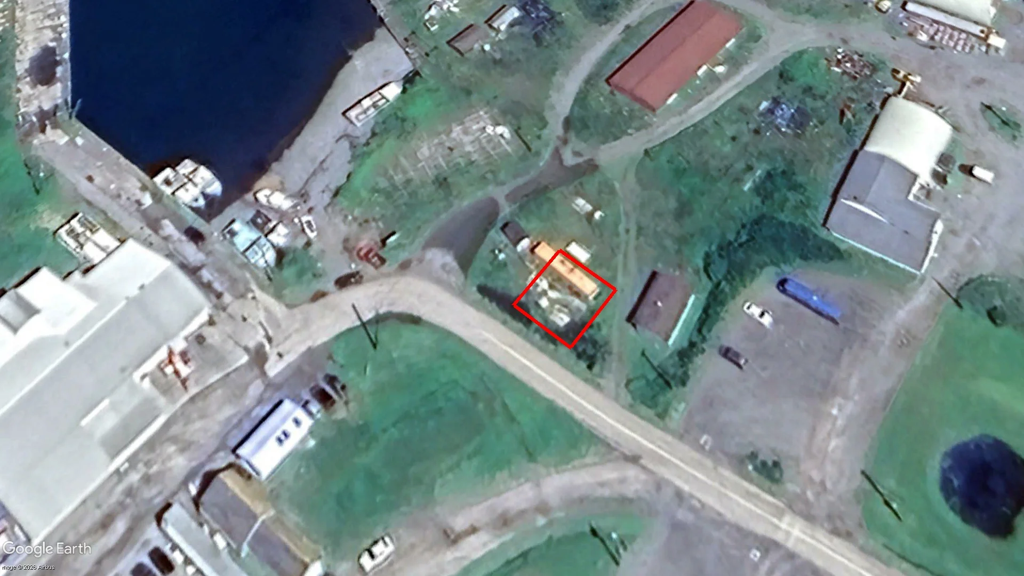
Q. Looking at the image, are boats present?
Yes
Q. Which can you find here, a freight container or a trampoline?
freight container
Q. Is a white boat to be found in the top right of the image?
No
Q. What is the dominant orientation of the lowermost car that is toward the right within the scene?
diagonally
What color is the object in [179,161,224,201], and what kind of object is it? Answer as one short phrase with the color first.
white boat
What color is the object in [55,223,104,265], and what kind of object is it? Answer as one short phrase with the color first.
white boat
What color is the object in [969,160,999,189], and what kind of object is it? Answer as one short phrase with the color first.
white vehicle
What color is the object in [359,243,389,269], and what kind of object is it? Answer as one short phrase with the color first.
red work vehicle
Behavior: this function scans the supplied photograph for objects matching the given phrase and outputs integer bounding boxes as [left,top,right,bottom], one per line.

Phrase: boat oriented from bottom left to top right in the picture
[347,81,408,127]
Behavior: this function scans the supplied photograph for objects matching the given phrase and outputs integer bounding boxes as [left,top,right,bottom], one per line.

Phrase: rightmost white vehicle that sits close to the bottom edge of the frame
[357,537,397,570]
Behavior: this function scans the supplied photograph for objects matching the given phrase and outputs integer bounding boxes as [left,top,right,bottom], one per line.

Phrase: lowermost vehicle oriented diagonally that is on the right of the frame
[718,345,752,372]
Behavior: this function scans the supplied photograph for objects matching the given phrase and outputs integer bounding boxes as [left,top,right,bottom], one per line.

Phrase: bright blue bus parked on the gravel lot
[776,275,844,328]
